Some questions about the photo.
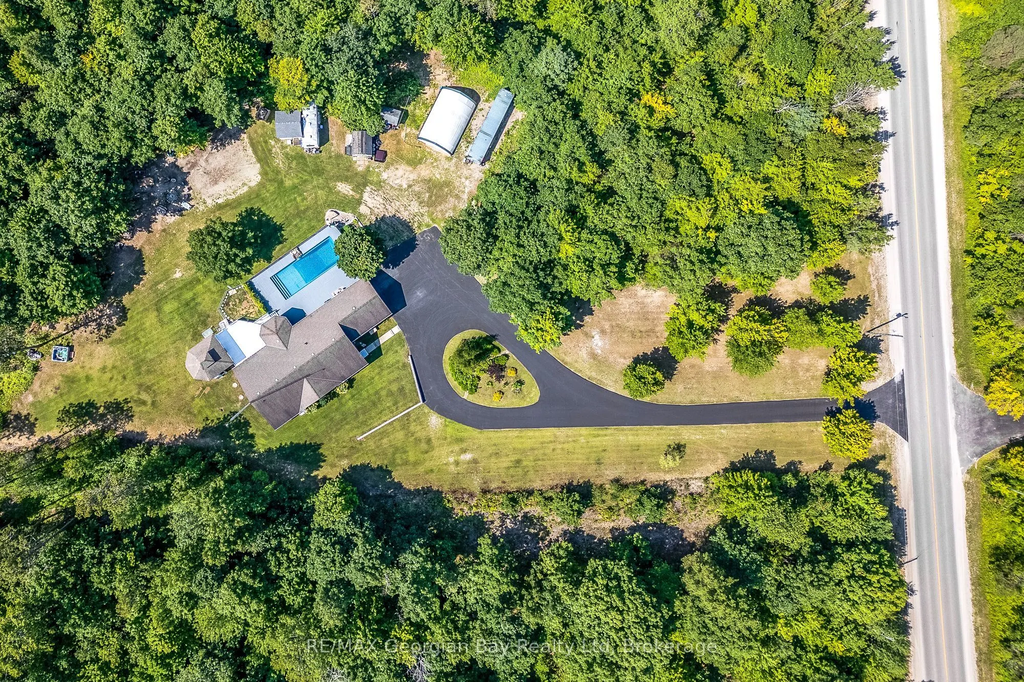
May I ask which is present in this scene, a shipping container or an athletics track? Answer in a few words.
shipping container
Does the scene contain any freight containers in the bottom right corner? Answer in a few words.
No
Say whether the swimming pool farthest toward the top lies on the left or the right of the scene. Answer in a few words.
left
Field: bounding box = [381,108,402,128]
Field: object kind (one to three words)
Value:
shed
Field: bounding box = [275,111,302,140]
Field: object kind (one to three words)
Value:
shed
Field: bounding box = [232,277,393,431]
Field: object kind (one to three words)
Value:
house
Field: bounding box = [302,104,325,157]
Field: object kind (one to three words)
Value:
vehicle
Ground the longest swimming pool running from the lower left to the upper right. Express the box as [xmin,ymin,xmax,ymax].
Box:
[268,234,341,303]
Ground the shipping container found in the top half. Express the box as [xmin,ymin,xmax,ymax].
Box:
[467,89,514,165]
